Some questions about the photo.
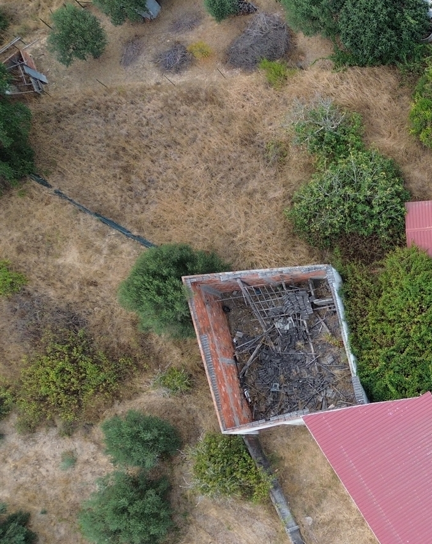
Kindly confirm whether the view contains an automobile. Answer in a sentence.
No, I can see no automobile in this picture.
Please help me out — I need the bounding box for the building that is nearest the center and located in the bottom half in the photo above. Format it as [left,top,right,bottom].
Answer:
[183,266,377,434]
